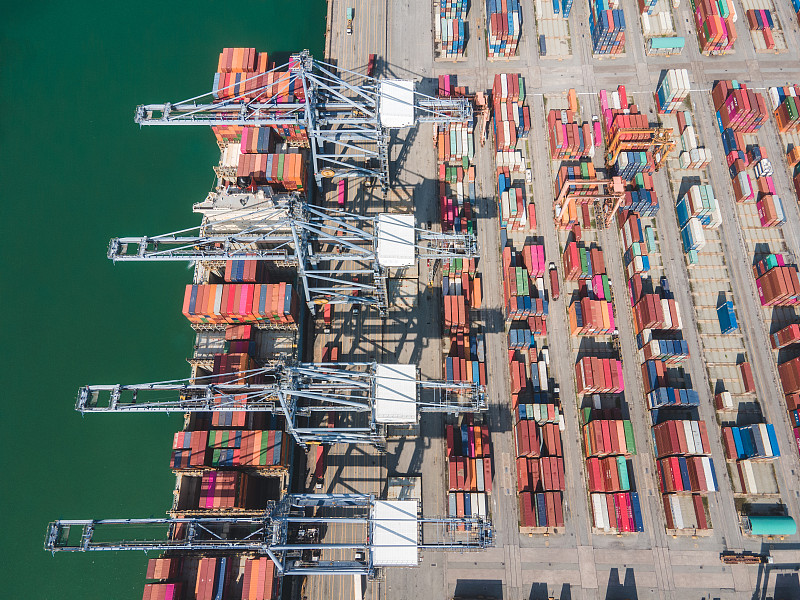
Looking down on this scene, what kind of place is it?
port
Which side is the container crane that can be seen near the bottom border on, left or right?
left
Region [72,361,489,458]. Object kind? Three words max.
container crane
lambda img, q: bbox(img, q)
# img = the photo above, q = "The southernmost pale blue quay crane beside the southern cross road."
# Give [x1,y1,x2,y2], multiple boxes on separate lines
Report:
[42,482,496,588]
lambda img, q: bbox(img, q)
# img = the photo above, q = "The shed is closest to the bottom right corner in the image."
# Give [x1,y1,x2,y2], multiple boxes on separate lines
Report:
[738,514,797,535]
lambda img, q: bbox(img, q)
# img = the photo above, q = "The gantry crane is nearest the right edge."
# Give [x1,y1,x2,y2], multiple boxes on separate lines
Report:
[604,122,677,169]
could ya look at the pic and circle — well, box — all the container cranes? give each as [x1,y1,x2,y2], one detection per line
[431,92,488,141]
[134,48,473,202]
[72,361,489,458]
[42,482,496,588]
[604,122,677,169]
[104,195,481,324]
[552,177,623,223]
